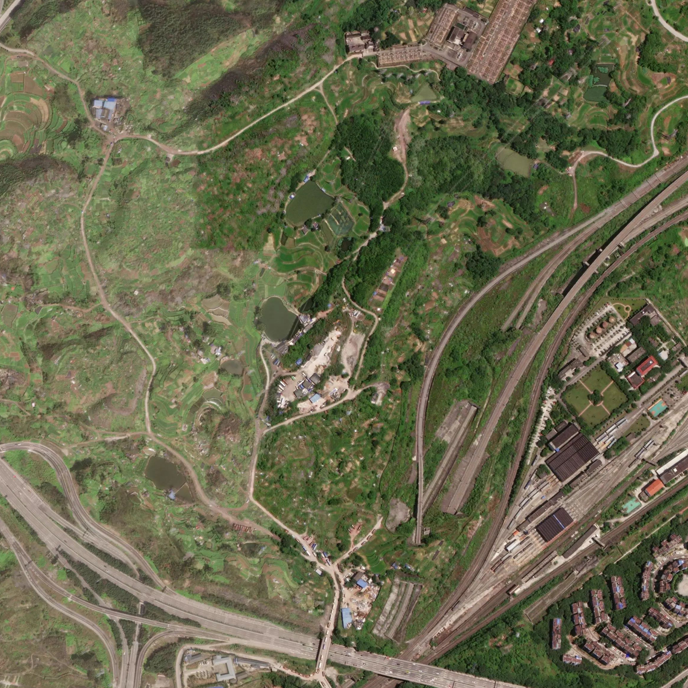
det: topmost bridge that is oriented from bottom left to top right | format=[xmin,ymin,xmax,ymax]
[443,171,688,517]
